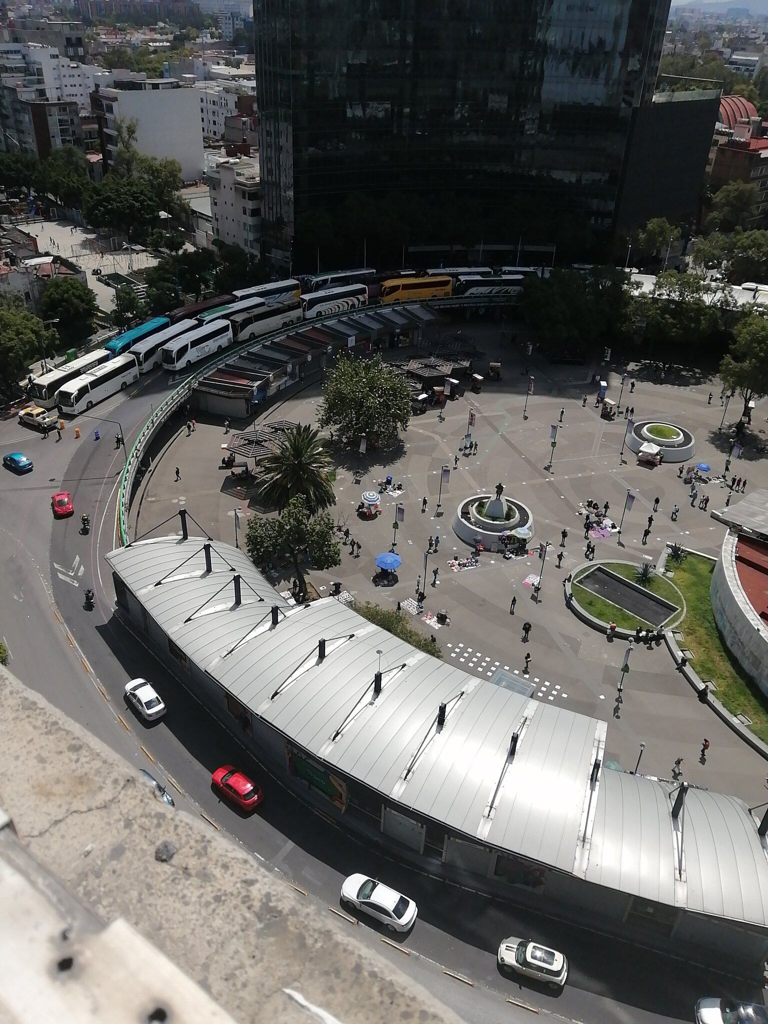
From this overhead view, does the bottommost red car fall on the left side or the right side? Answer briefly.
left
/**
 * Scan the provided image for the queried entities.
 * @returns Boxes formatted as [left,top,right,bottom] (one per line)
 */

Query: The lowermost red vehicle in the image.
[206,767,266,816]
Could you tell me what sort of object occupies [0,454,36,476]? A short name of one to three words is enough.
car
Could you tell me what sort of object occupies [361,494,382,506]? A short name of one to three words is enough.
umbrella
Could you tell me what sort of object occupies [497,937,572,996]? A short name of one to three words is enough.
car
